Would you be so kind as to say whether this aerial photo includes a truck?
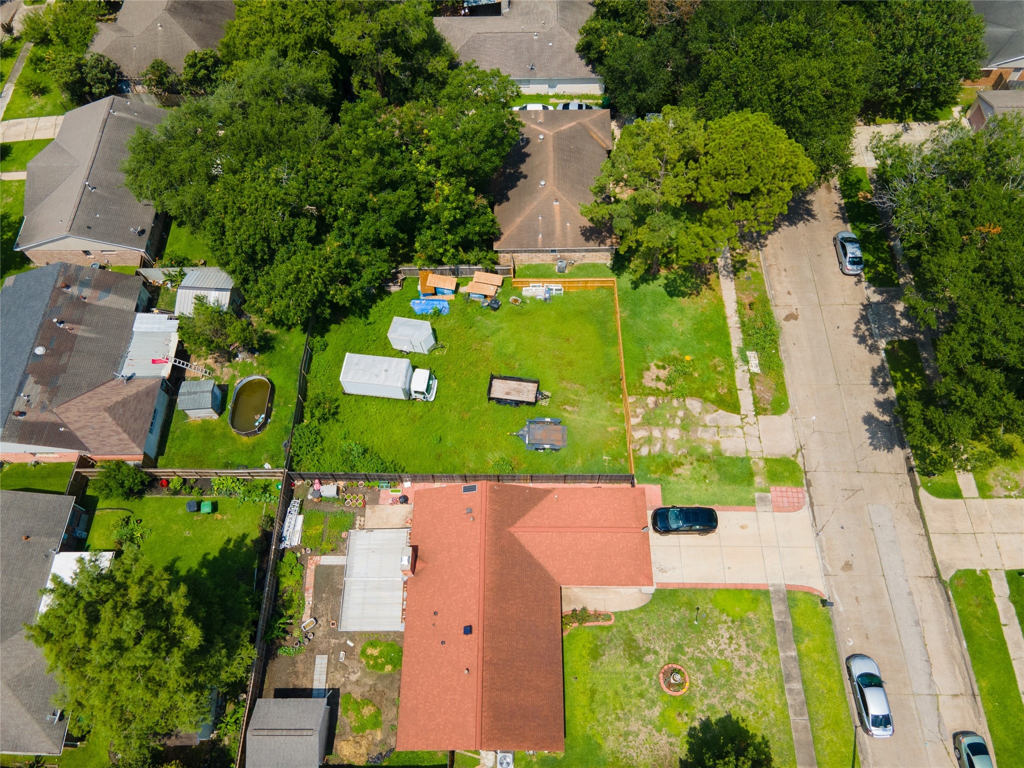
Yes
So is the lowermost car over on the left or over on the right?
right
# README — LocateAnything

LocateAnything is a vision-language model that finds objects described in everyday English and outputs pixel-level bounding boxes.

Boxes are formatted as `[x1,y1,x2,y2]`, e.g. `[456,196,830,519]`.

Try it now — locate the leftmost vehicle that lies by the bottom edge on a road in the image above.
[845,656,891,737]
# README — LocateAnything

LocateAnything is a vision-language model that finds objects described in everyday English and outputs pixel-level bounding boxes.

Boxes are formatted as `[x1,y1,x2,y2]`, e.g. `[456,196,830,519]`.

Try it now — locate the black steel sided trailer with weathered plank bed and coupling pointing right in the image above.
[487,373,553,409]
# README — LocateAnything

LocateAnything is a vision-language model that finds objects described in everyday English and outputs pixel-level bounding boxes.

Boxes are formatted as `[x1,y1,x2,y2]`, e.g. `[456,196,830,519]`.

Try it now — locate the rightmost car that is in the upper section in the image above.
[831,234,864,275]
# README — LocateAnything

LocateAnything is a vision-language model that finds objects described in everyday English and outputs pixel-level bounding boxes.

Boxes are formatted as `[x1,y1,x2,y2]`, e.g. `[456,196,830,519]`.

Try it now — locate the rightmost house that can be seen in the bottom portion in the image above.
[393,479,655,750]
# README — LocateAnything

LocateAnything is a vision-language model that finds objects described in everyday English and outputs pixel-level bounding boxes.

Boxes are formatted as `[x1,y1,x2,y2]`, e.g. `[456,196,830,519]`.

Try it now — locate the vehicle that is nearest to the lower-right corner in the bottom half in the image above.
[953,730,998,768]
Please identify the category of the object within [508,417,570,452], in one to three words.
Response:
trailer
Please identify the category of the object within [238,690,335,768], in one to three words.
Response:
shed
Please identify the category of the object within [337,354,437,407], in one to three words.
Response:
truck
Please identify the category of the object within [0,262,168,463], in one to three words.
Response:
house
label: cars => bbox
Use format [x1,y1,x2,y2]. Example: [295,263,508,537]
[953,730,998,768]
[650,504,719,538]
[845,656,891,737]
[514,100,555,111]
[831,234,864,275]
[559,100,603,111]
